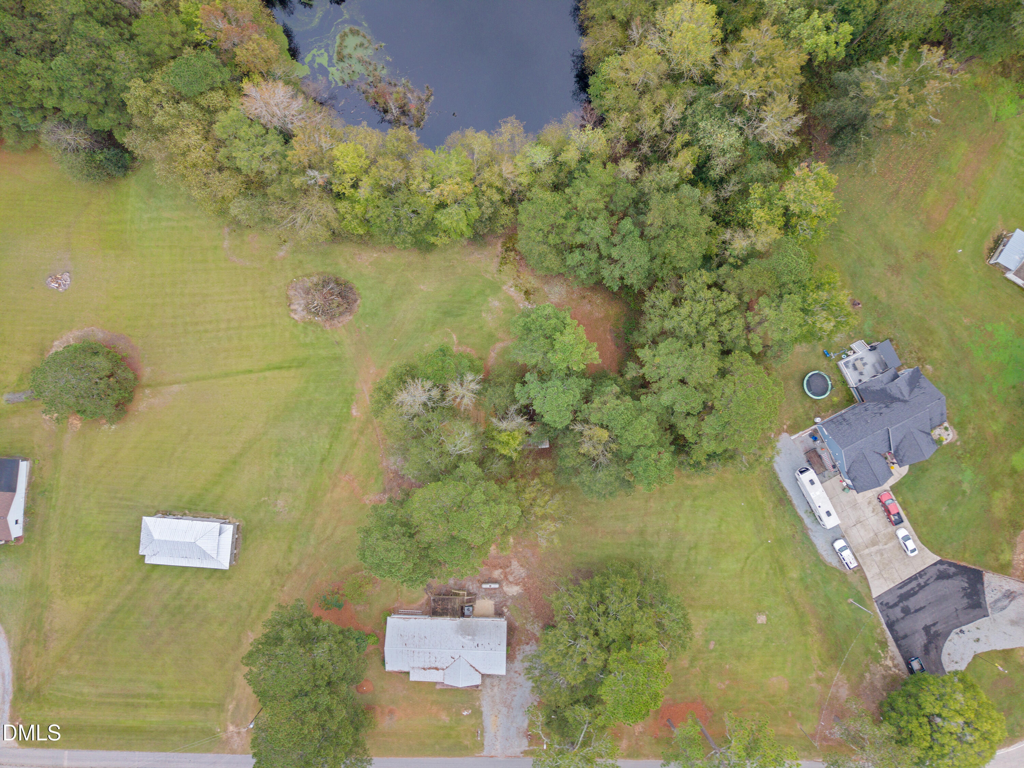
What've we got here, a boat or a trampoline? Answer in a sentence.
Of the two, only a trampoline appears.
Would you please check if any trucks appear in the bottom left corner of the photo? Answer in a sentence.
No, no truck can be made out in the bottom left corner of the photo.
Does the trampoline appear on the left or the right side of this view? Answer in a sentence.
The trampoline is on the right side of the image.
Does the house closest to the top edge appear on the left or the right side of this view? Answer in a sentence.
The house closest to the top edge appears in the right half of the scene.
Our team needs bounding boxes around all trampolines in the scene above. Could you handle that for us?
[802,371,833,399]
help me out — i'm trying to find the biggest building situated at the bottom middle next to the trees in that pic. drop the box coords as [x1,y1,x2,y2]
[385,614,507,690]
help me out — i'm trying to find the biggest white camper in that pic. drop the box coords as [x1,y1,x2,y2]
[793,463,842,530]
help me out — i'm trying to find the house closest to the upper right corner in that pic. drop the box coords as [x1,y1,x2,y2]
[987,228,1024,288]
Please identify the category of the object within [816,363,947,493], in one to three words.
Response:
house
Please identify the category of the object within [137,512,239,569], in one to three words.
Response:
barn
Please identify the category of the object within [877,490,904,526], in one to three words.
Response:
truck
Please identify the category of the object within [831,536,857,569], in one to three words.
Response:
car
